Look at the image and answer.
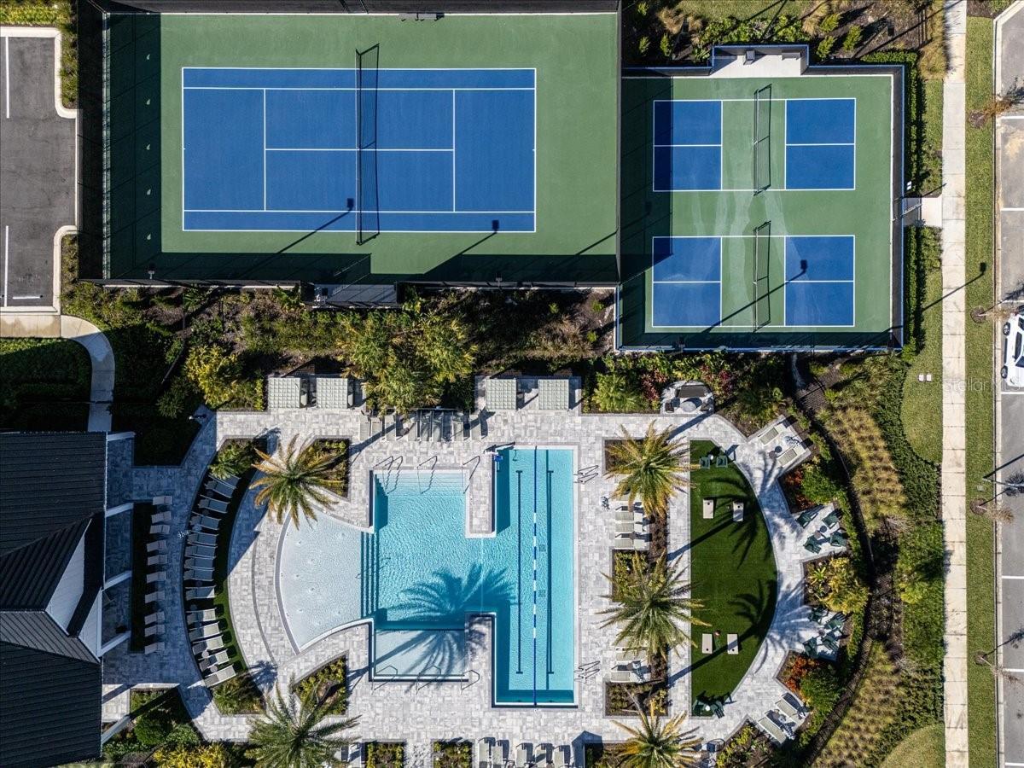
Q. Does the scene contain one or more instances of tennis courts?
Yes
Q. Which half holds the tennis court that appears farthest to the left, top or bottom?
top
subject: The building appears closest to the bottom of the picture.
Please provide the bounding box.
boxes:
[0,431,135,768]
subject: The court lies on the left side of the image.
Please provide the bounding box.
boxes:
[102,12,617,309]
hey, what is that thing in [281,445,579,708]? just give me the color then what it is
blue swimming pool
